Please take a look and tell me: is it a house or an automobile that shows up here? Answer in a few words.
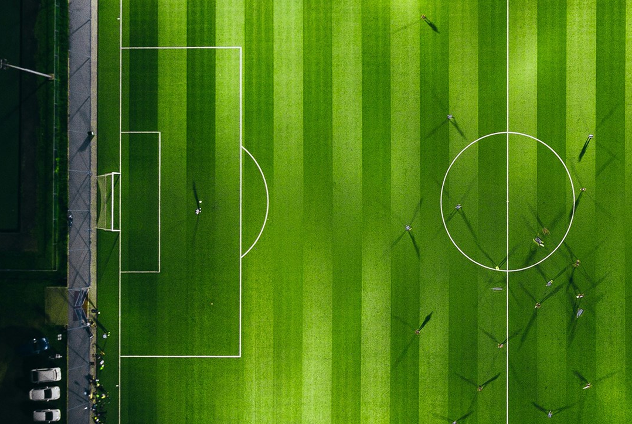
automobile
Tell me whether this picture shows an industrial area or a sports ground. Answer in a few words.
sports ground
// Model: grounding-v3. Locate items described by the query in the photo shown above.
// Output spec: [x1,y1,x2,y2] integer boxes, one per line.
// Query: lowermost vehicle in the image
[31,409,62,424]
